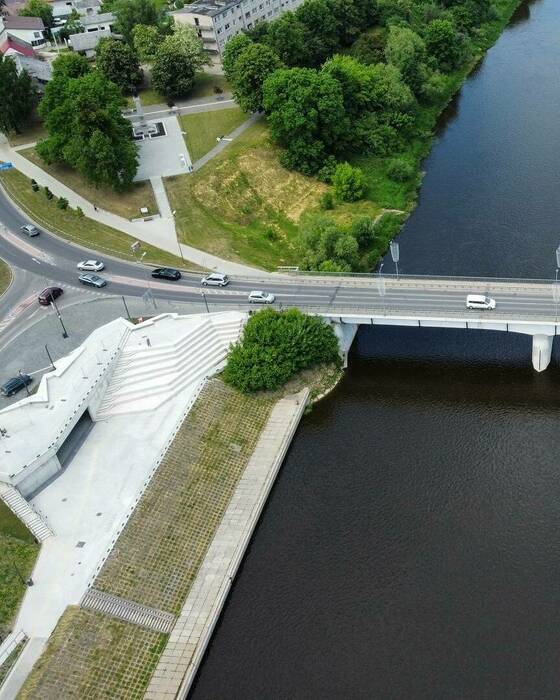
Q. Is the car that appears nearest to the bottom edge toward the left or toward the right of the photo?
left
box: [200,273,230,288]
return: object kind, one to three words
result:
car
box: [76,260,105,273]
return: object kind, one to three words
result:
vehicle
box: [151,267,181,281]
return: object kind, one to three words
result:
vehicle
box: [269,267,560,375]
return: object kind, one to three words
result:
bridge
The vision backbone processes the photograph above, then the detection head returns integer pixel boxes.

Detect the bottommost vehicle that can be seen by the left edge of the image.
[0,375,34,395]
